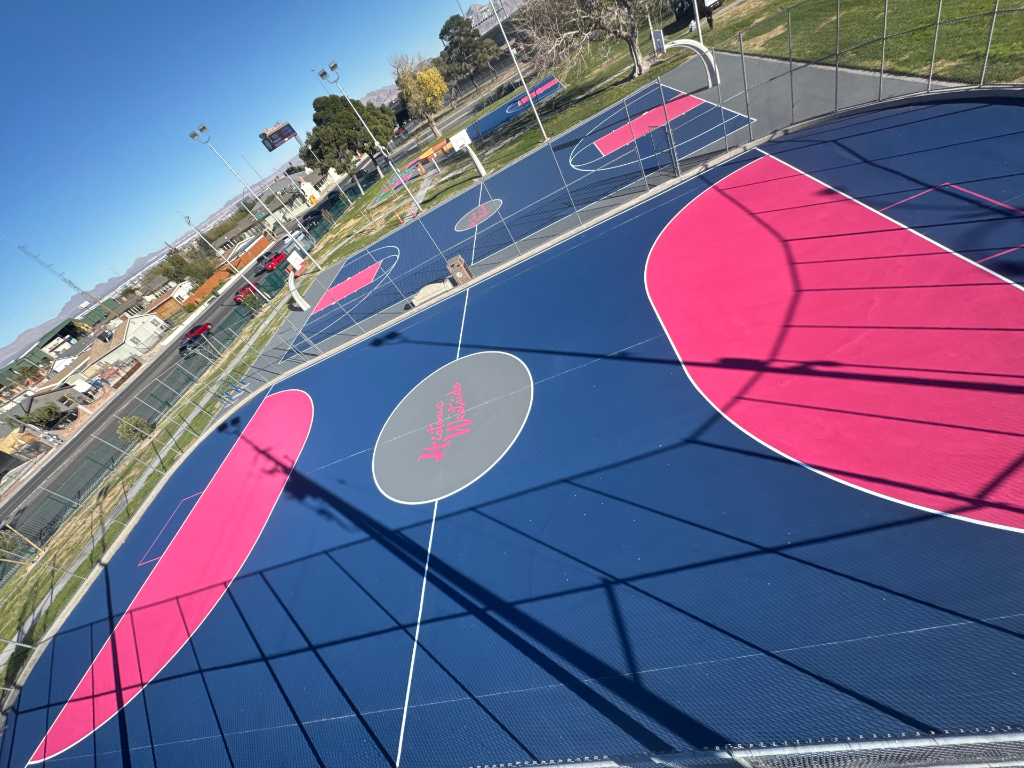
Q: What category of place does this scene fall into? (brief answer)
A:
sports ground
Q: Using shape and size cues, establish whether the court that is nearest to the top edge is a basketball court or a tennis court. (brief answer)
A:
basketball court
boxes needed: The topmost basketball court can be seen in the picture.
[470,75,563,140]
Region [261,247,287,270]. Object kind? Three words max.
car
